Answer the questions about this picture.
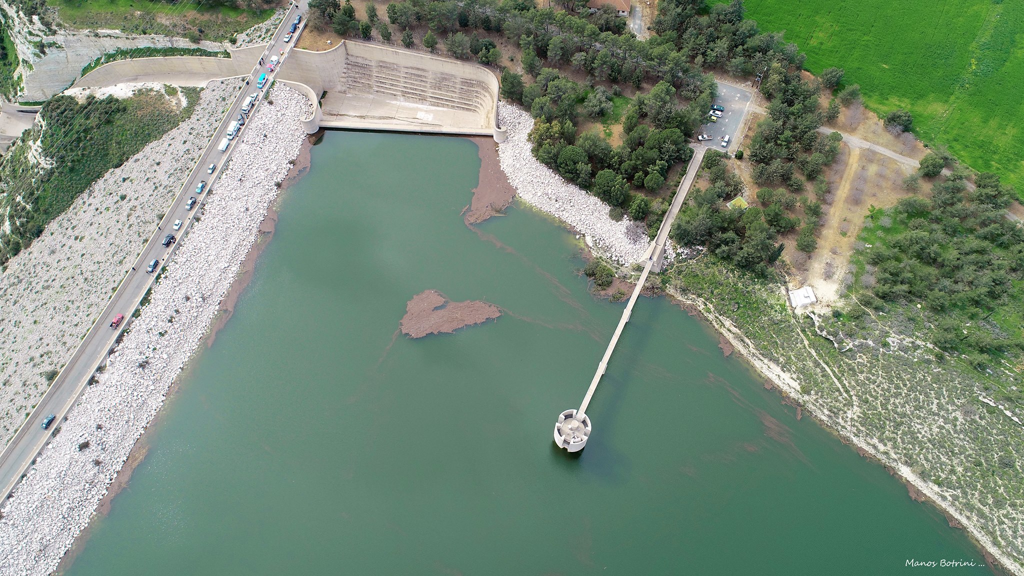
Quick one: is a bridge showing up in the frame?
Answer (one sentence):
Yes, there is a bridge in the image.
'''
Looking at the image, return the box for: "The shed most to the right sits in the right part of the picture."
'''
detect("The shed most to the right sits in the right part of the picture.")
[787,287,816,312]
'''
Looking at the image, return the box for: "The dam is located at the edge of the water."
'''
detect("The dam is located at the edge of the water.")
[0,1,326,576]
